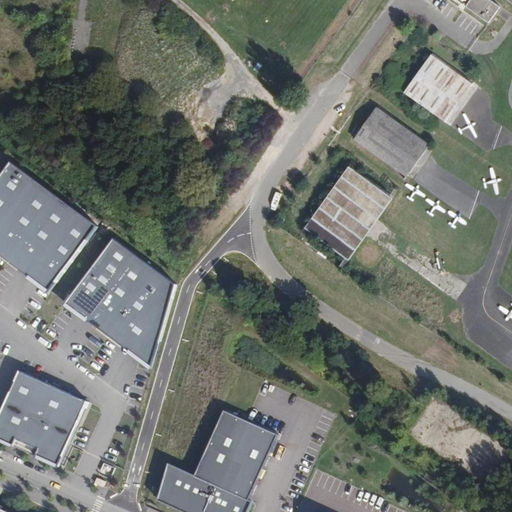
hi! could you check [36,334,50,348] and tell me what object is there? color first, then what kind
white vehicle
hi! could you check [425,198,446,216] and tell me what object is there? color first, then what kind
white airplane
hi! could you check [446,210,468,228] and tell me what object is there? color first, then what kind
white airplane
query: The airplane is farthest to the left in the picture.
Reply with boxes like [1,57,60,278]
[404,183,426,202]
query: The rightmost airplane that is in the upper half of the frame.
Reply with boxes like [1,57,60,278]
[482,166,502,194]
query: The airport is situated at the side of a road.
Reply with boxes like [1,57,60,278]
[369,84,512,370]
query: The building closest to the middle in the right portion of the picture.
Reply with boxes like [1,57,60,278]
[305,167,392,262]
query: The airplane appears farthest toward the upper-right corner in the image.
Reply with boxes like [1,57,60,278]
[458,113,478,137]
